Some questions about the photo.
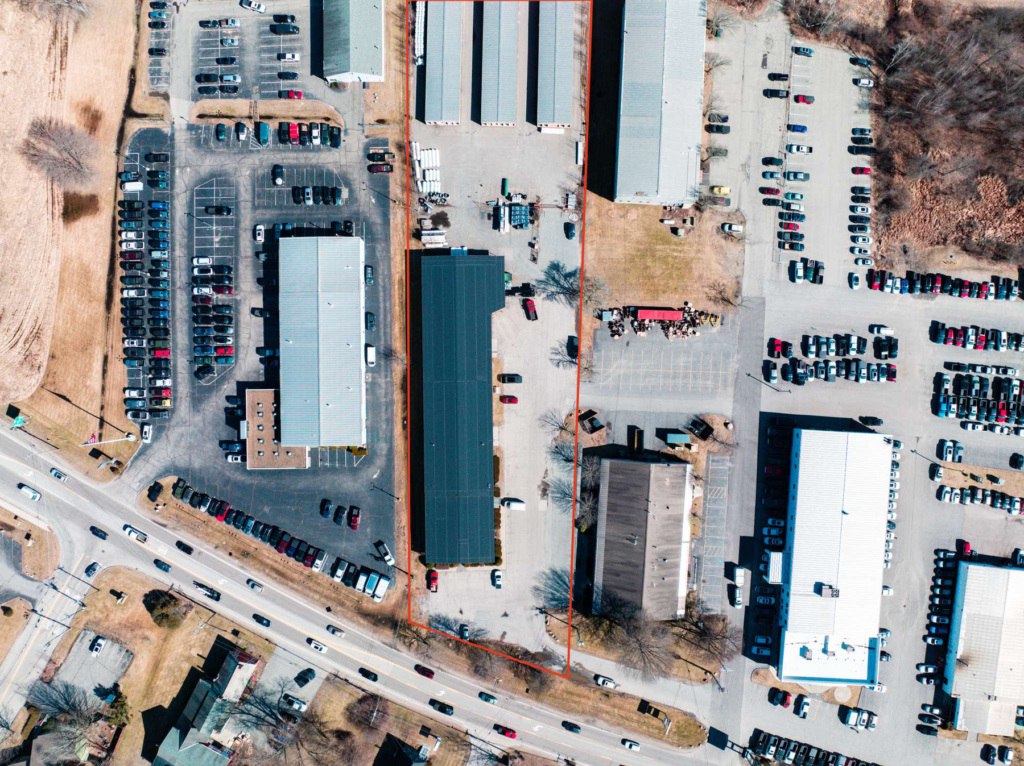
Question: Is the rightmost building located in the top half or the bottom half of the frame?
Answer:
bottom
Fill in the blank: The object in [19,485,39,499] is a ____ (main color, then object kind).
white car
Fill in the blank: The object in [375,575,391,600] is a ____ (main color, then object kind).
white vehicle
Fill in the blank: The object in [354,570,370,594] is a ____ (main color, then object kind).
white vehicle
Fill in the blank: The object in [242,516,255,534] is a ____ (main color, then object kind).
blue vehicle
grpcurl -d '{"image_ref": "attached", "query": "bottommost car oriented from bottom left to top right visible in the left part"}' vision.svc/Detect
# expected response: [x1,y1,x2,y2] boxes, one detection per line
[296,670,315,685]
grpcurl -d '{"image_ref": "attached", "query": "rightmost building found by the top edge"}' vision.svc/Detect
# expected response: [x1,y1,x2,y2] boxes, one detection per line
[614,0,707,204]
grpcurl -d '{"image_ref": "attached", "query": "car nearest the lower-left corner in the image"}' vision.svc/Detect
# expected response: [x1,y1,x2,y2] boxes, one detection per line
[90,637,105,656]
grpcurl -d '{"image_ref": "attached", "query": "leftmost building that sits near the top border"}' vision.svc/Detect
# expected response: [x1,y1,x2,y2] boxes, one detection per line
[323,0,385,87]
